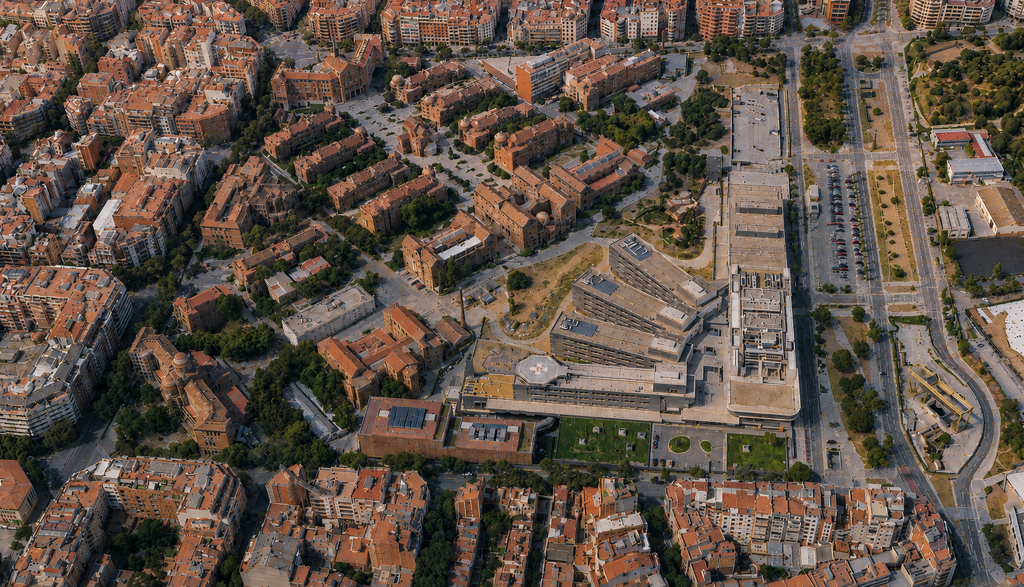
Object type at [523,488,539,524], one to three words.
house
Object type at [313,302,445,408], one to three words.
building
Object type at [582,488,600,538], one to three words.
building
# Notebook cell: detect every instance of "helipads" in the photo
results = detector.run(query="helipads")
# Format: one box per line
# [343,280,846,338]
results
[513,351,564,387]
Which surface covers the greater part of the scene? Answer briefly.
buildings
